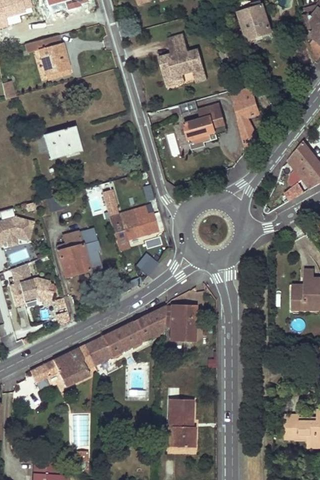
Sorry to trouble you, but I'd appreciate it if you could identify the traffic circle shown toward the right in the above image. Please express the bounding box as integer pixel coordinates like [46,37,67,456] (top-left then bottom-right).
[174,192,254,277]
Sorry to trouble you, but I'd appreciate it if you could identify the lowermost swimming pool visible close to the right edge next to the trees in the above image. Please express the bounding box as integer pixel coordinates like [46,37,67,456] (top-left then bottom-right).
[290,318,306,334]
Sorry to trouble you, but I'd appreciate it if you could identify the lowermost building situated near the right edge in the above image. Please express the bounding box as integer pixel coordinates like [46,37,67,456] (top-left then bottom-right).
[284,412,320,450]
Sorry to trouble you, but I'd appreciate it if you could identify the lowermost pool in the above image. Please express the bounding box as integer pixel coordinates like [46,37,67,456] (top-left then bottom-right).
[72,415,89,447]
